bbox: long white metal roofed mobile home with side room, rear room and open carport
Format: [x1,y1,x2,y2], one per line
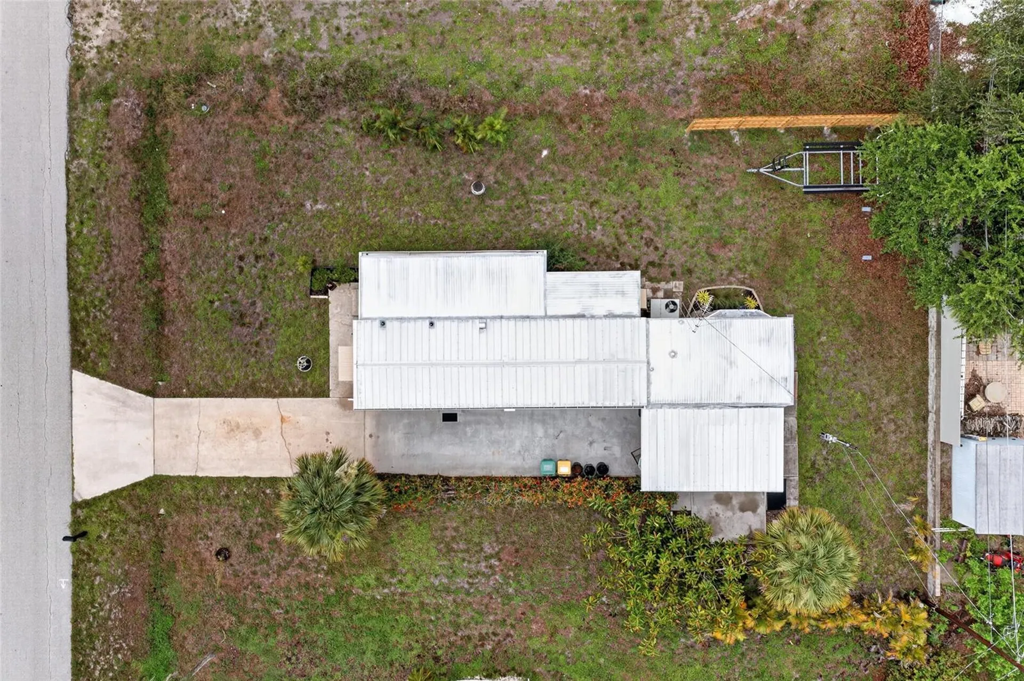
[339,249,795,493]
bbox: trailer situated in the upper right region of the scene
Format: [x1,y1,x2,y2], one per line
[747,132,889,197]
